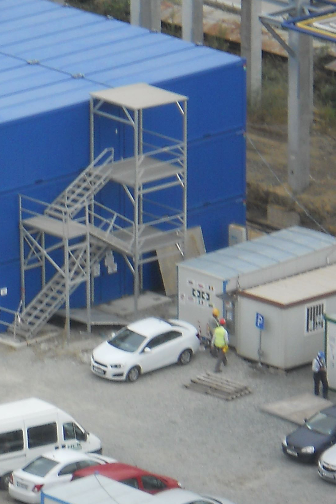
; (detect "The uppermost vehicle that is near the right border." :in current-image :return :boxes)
[276,412,336,467]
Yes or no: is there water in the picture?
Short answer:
No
